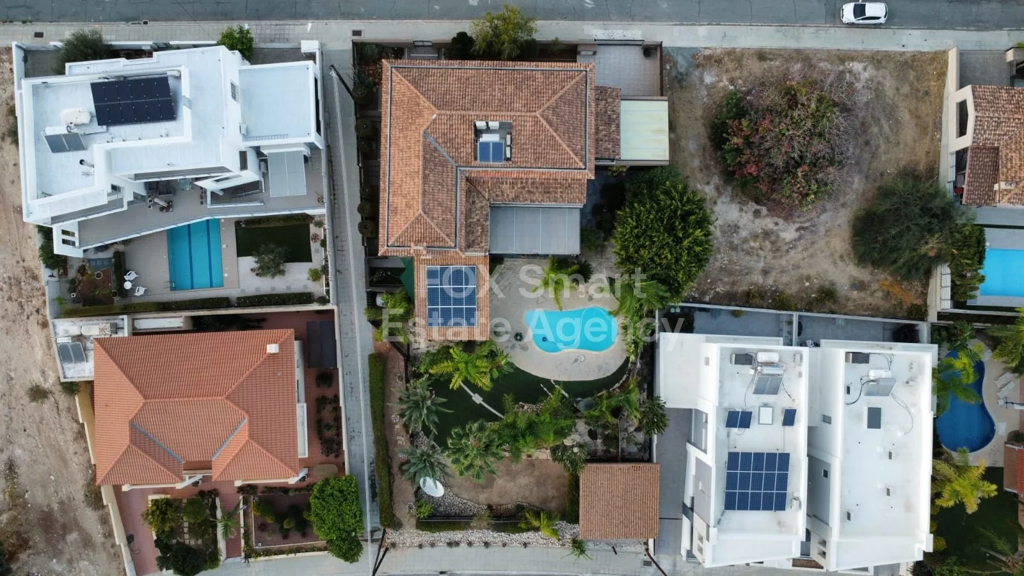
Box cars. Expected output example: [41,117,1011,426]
[844,0,892,25]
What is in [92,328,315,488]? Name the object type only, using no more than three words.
house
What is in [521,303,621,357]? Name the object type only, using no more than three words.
swimming pool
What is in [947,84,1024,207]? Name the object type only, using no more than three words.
house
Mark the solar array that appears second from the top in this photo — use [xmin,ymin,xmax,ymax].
[427,266,477,327]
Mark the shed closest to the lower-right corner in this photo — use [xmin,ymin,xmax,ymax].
[985,438,1024,493]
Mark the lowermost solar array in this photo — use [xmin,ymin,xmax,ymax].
[724,452,789,511]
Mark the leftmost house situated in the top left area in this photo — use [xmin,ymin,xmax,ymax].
[19,46,322,257]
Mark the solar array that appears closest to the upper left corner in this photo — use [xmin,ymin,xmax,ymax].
[90,77,176,126]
